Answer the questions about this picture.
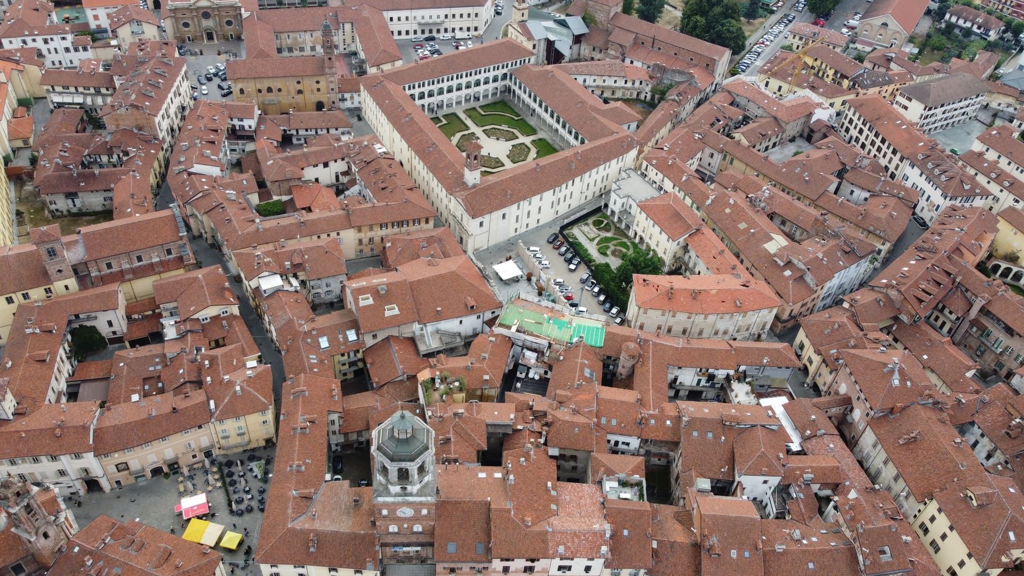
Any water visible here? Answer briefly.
No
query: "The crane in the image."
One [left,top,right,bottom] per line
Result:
[734,34,825,84]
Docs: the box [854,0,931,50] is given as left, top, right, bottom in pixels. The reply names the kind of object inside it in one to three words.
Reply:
building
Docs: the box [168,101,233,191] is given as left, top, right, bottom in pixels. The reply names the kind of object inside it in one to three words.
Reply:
house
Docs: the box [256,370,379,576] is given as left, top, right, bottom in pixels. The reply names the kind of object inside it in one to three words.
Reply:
house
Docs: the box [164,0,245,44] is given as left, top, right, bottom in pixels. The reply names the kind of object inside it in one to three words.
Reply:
building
